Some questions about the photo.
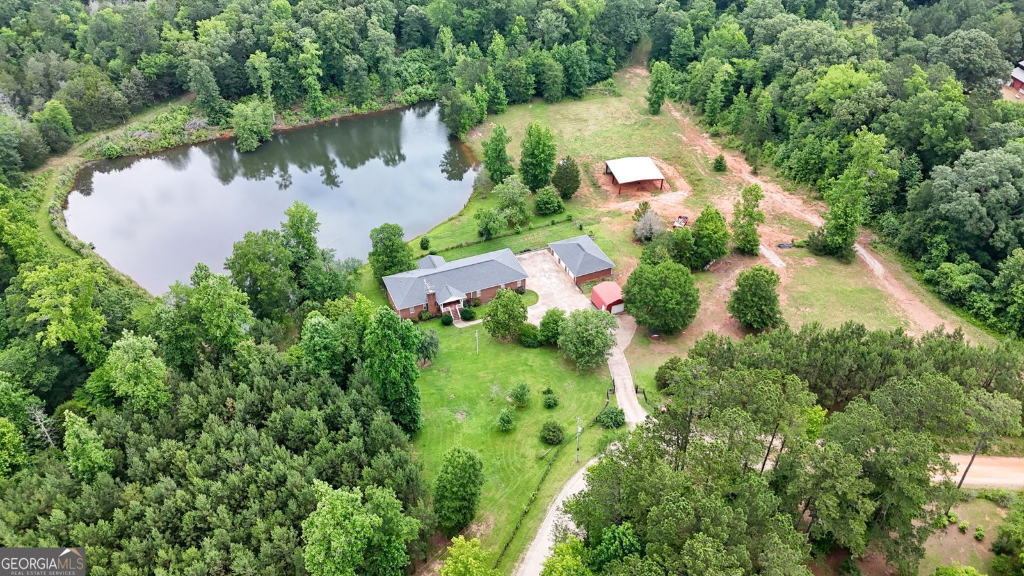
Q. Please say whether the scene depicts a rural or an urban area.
rural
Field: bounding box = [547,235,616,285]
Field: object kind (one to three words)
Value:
building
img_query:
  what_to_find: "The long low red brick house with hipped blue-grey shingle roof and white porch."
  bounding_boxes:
[383,248,530,322]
